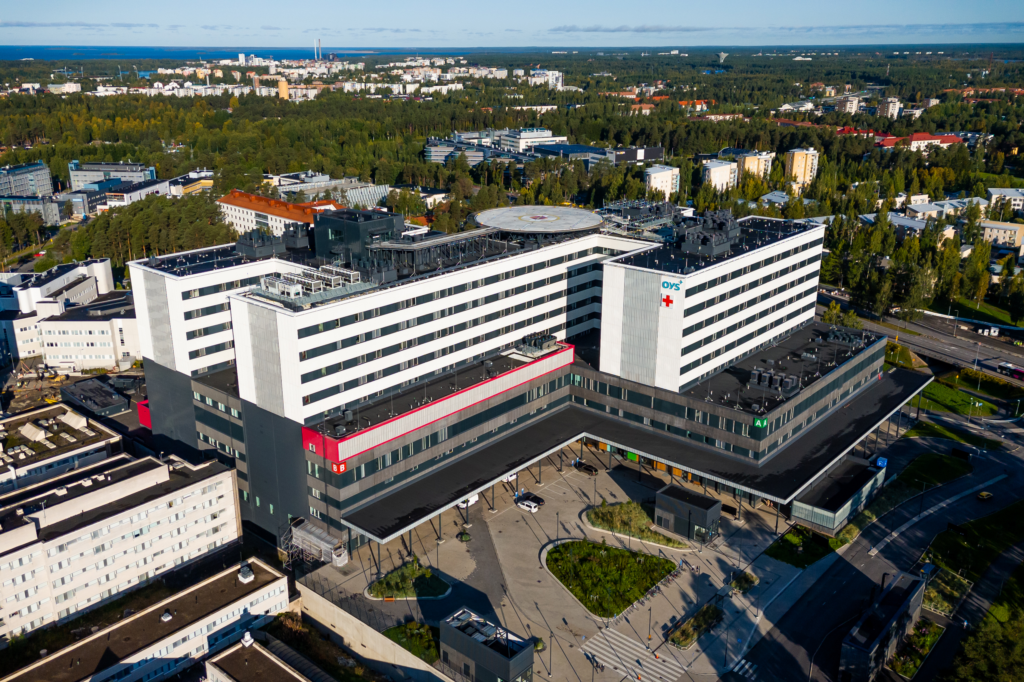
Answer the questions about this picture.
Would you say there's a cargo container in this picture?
No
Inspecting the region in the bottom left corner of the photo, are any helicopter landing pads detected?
No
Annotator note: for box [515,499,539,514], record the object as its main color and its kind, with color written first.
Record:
white car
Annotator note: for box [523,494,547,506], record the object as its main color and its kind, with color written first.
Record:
black vehicle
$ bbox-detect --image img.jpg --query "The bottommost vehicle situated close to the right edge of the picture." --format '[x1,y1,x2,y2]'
[974,489,996,501]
